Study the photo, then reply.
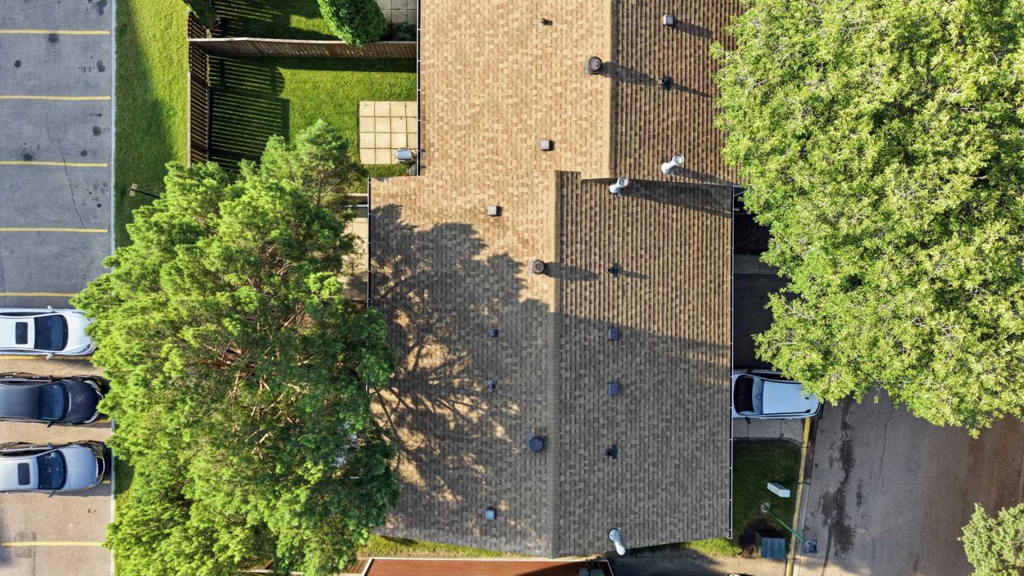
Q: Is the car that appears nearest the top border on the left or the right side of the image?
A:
left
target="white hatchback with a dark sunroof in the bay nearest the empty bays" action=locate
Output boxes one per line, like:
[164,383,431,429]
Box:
[0,304,98,362]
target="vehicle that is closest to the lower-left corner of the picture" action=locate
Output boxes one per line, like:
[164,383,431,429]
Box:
[0,440,108,501]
